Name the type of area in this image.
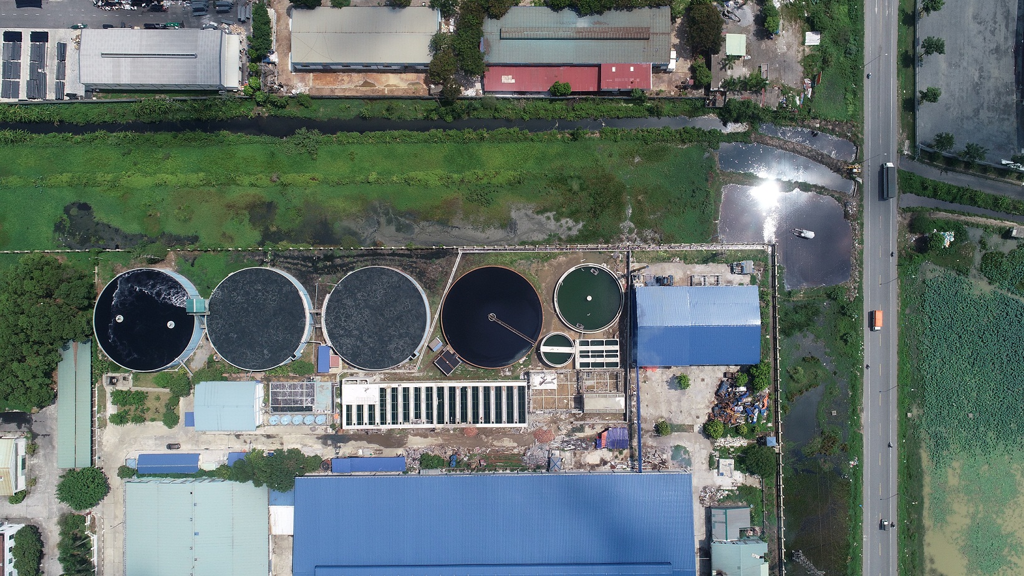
industrial area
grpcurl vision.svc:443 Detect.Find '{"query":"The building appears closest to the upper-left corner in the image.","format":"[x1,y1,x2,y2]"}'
[75,29,227,89]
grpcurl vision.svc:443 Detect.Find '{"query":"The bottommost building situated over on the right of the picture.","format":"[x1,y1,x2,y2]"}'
[706,538,767,576]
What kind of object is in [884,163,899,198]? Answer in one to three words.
vehicle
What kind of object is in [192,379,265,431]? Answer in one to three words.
building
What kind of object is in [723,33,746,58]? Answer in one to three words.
shed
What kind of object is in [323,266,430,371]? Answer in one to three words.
storage tank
